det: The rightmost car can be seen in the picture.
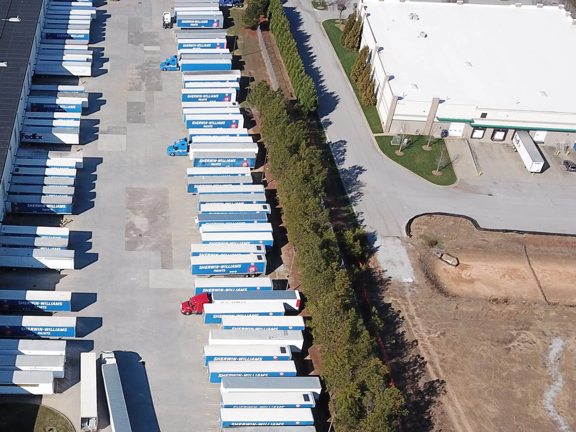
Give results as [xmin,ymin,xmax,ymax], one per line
[561,157,576,171]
